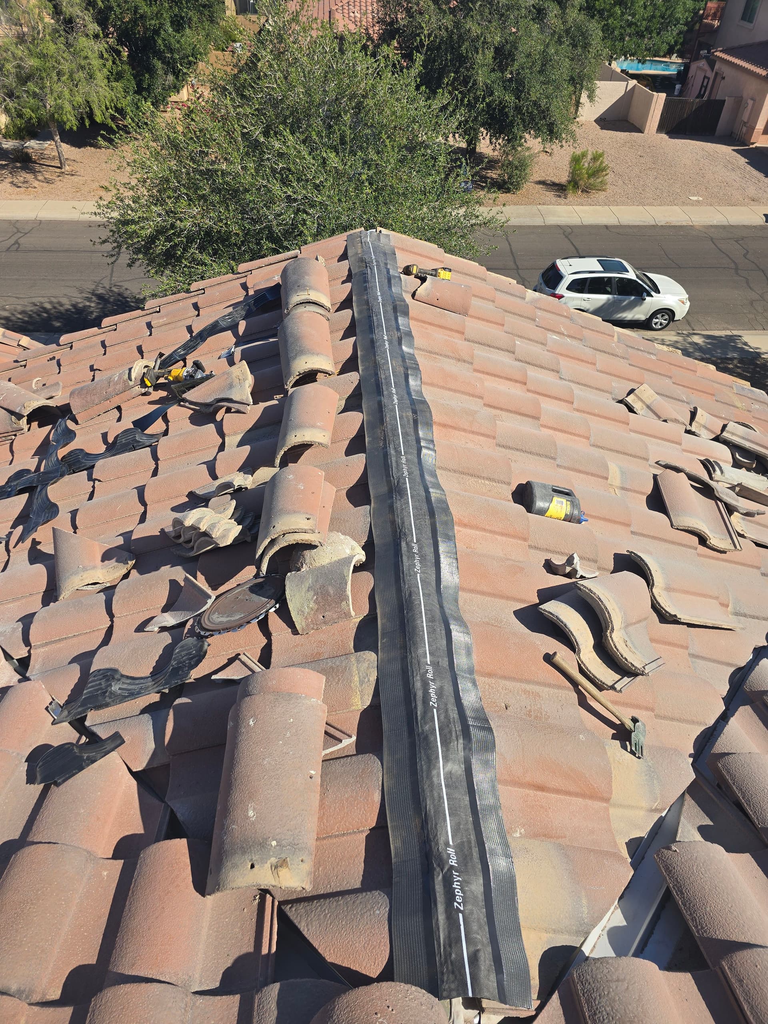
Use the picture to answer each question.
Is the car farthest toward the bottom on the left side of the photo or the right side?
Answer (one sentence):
The car farthest toward the bottom is on the right side of the image.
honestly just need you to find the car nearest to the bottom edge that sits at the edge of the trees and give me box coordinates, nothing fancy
[528,252,688,328]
